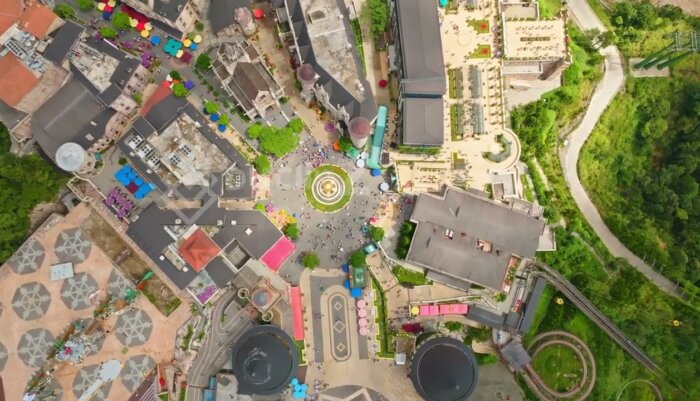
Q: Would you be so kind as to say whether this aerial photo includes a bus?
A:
No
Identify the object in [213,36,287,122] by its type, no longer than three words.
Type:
building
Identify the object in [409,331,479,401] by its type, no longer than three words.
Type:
building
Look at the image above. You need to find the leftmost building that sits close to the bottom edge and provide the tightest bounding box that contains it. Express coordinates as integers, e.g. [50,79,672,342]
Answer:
[120,365,165,401]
